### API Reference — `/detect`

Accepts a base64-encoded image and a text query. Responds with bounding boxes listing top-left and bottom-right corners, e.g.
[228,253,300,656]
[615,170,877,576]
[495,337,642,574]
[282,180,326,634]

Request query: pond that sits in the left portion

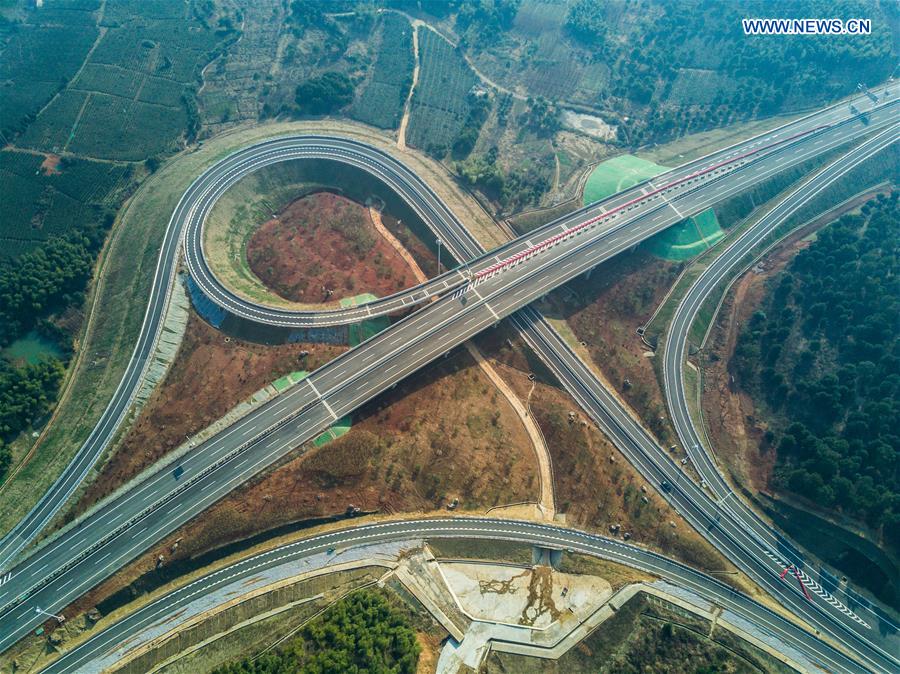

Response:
[0,337,67,373]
